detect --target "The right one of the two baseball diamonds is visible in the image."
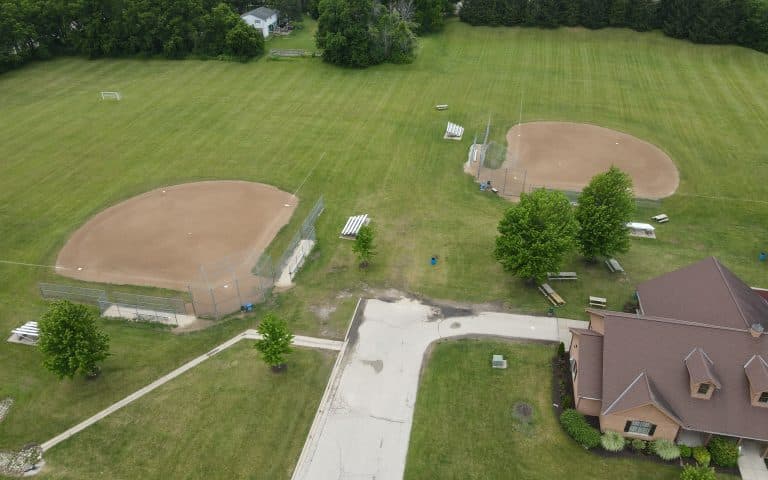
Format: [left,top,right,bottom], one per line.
[464,88,767,203]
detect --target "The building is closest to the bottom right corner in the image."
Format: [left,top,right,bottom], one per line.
[568,256,768,460]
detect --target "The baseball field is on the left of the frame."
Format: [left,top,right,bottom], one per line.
[1,153,326,329]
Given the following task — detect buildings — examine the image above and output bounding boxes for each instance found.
[242,5,280,42]
[568,256,768,460]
